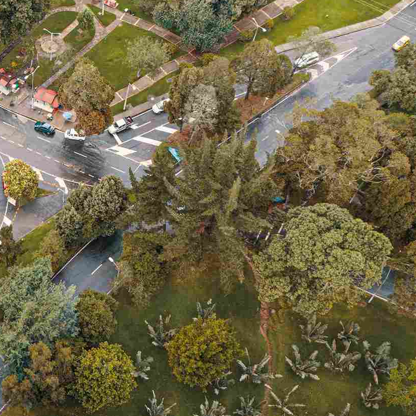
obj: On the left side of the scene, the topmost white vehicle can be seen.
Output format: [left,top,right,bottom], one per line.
[151,97,171,113]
